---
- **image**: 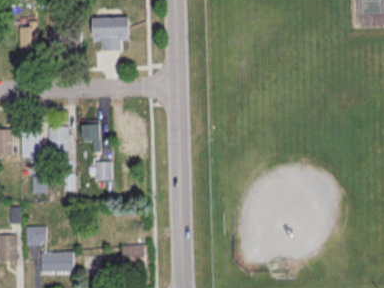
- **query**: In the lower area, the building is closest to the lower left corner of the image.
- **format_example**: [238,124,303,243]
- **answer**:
[0,235,18,264]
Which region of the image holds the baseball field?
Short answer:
bottom right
